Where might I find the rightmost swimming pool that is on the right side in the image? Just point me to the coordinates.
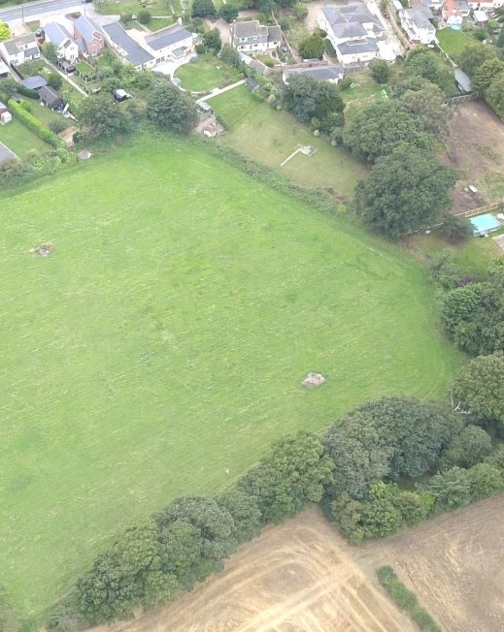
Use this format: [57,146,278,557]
[469,213,501,231]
